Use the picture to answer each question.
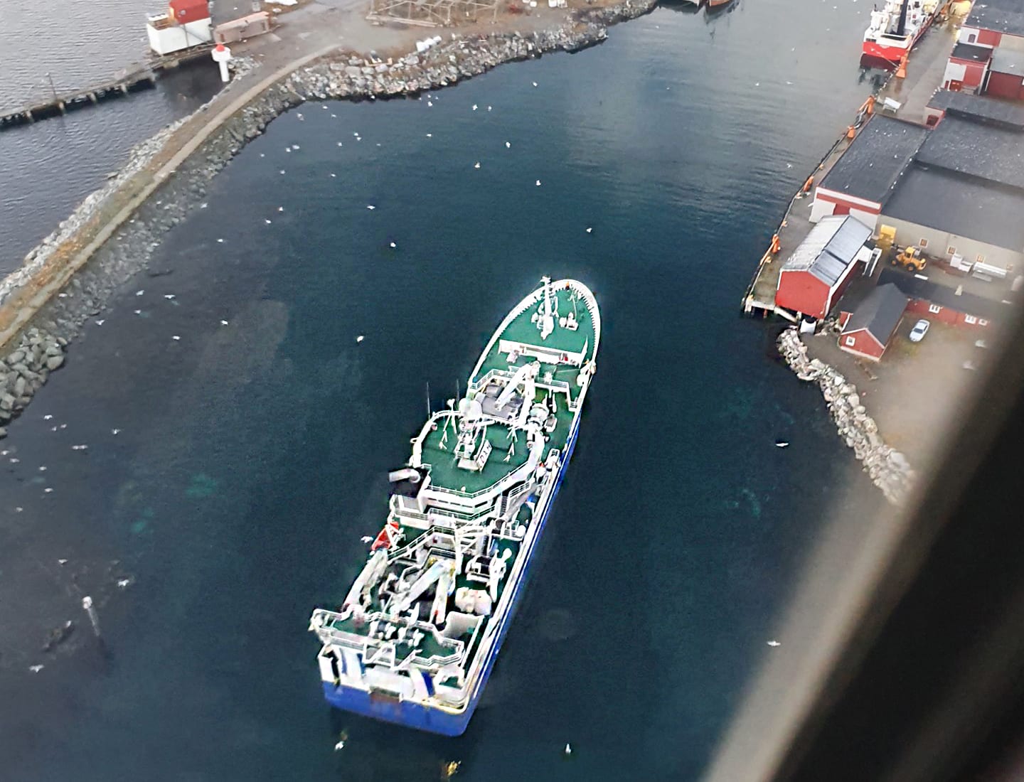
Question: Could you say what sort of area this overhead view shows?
port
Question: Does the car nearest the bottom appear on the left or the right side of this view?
right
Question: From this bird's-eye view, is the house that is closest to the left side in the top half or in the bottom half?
top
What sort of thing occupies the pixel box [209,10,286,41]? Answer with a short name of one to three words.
shed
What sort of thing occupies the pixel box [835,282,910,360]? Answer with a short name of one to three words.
house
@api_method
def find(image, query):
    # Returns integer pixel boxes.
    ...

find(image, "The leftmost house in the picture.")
[135,0,213,55]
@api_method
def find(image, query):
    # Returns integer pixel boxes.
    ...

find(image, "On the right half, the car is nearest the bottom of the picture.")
[907,318,933,340]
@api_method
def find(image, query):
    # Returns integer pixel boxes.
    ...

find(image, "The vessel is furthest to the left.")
[308,267,597,740]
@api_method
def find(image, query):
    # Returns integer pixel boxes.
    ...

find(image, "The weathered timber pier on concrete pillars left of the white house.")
[0,65,153,130]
